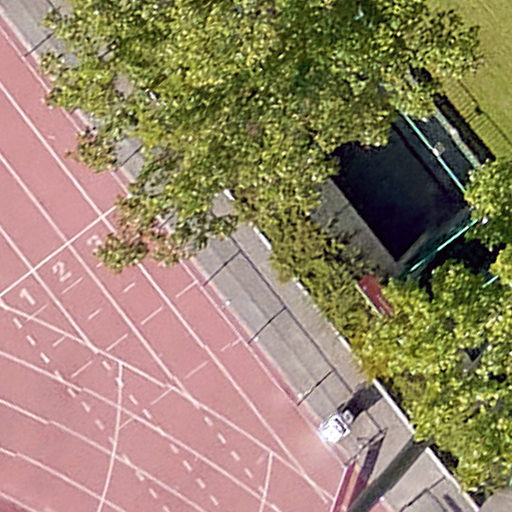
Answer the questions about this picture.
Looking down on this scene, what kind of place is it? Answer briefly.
sports ground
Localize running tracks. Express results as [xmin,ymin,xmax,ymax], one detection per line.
[0,14,390,512]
